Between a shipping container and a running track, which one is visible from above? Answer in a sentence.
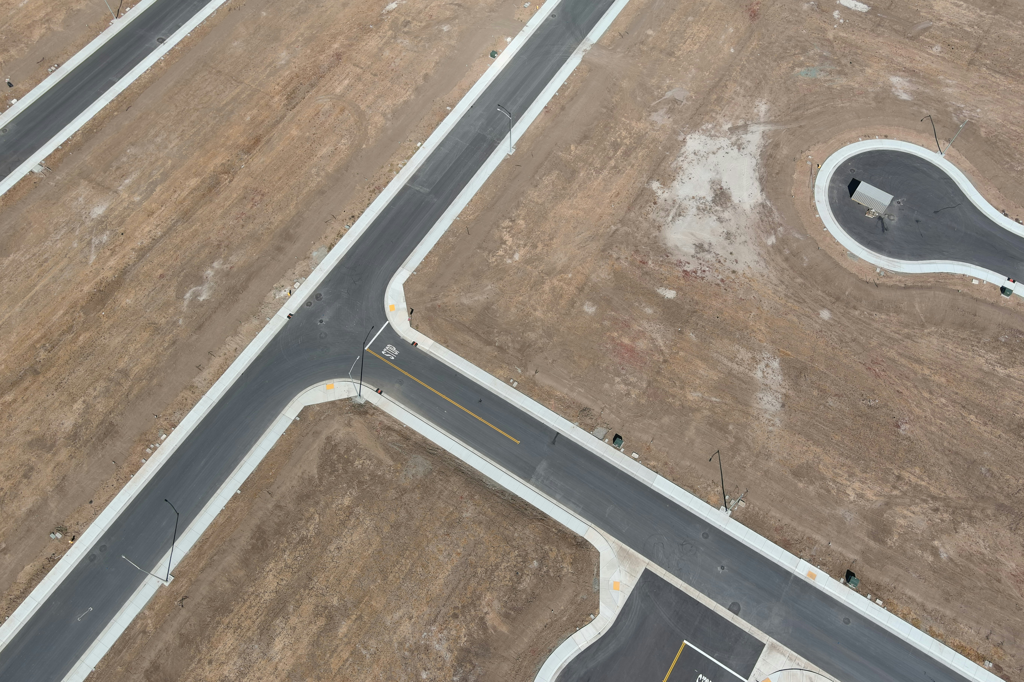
The image shows a shipping container.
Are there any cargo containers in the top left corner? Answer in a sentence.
No, there is no cargo container in the top left corner.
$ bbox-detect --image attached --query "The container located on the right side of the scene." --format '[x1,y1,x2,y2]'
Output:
[852,181,893,213]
